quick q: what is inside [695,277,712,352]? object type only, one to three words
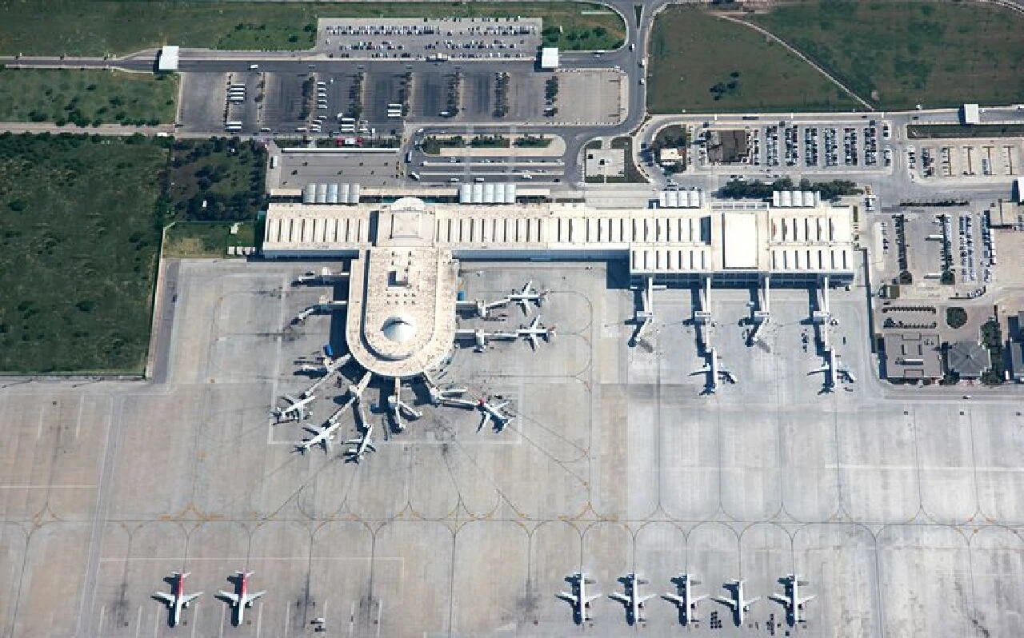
jet bridge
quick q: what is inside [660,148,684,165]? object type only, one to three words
building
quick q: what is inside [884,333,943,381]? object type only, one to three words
building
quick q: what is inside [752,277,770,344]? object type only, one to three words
jet bridge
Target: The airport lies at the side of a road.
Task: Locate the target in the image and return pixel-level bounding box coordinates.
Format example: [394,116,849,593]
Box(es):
[0,240,1024,638]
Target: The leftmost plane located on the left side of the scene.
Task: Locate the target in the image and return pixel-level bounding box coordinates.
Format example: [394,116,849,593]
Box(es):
[155,573,204,624]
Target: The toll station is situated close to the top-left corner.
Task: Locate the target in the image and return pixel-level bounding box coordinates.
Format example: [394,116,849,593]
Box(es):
[159,46,180,70]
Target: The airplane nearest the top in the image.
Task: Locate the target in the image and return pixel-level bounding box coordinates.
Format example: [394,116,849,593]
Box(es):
[512,280,548,315]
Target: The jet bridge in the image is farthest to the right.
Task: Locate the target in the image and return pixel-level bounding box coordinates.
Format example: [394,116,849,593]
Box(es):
[813,277,830,352]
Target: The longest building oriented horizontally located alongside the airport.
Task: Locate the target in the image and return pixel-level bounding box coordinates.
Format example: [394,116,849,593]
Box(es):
[261,196,854,281]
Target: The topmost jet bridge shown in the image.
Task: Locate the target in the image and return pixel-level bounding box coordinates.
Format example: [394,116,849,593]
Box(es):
[296,267,350,283]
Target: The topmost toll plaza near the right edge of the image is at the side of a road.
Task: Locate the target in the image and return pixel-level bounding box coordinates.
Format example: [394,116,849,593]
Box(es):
[964,104,979,124]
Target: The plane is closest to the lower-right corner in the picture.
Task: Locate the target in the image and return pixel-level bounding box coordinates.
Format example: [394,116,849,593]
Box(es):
[770,574,819,625]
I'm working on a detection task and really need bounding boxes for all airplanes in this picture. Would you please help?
[277,390,315,423]
[479,393,514,427]
[690,349,737,390]
[810,349,856,389]
[345,427,382,459]
[665,575,713,625]
[300,419,339,453]
[612,572,660,624]
[218,573,267,624]
[521,316,555,351]
[559,574,607,625]
[716,581,765,627]
[512,280,548,315]
[770,574,819,625]
[155,573,204,624]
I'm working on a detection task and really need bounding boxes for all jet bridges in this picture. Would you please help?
[328,372,374,430]
[695,277,712,352]
[458,296,513,319]
[296,267,350,283]
[301,355,353,396]
[813,277,830,352]
[424,372,481,407]
[635,277,654,345]
[387,380,423,431]
[752,277,770,344]
[295,296,348,321]
[456,328,521,348]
